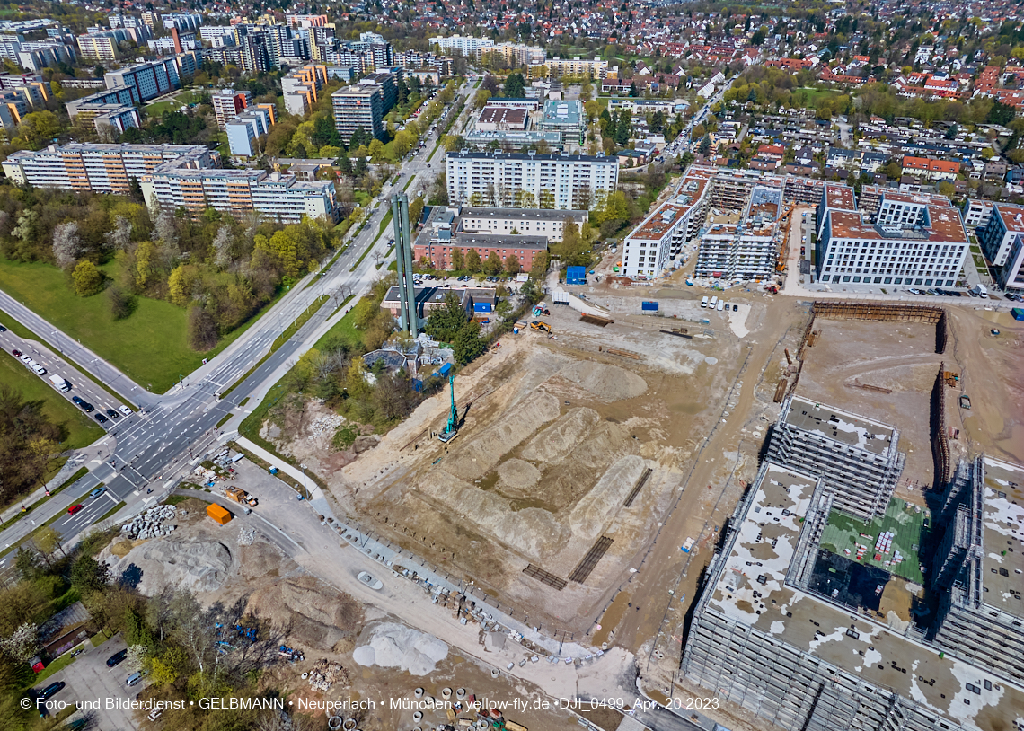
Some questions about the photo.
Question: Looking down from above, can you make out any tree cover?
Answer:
Yes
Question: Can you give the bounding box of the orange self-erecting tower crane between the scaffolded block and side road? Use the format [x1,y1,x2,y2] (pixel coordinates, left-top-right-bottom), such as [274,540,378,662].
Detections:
[761,193,795,268]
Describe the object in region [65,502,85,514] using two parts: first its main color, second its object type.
red vehicle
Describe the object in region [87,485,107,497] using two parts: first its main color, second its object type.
blue vehicle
